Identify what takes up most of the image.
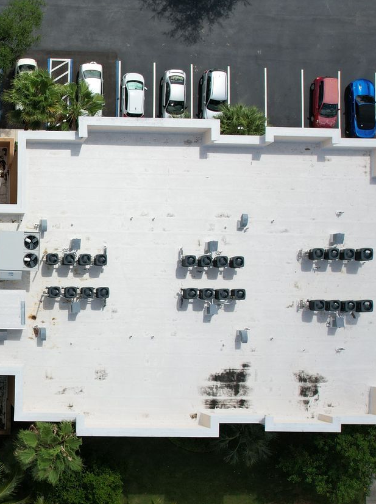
buildings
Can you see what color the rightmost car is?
blue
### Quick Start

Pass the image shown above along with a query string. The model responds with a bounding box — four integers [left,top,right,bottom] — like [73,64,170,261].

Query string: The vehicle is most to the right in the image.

[346,78,376,139]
